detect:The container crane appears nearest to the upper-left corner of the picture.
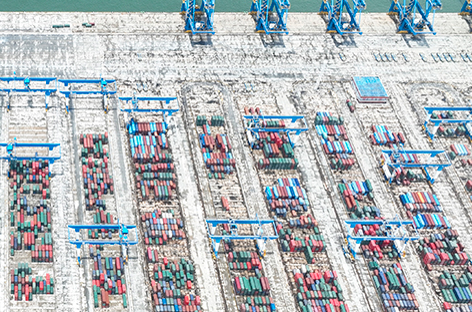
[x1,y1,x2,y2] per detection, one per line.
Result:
[0,71,56,110]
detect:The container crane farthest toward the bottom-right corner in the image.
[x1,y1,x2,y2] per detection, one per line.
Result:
[343,214,417,259]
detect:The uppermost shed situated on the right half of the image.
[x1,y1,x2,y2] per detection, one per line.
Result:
[352,76,389,102]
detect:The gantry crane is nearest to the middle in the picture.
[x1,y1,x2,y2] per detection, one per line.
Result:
[244,111,307,150]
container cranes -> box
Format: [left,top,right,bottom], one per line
[418,102,472,140]
[343,214,417,259]
[379,144,450,185]
[207,214,278,259]
[247,0,292,33]
[244,111,307,150]
[0,71,56,110]
[177,0,216,33]
[118,92,178,130]
[387,0,445,33]
[68,218,137,264]
[0,137,60,179]
[317,0,368,33]
[58,74,115,112]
